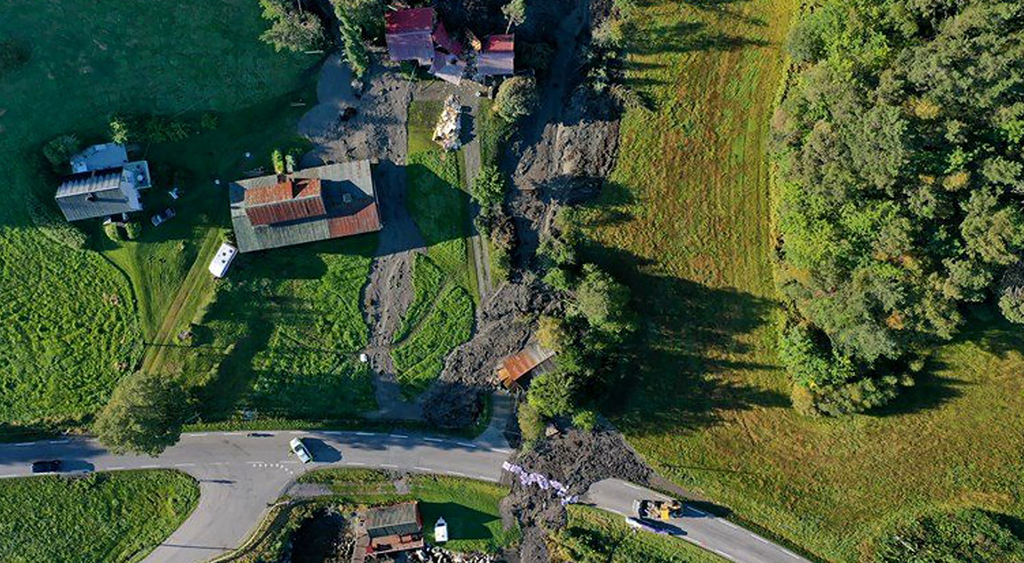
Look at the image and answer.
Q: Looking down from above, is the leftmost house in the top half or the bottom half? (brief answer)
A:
top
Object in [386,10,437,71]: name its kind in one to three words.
barn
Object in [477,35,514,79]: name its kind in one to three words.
barn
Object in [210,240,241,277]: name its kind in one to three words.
camper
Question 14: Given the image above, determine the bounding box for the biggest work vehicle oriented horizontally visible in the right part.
[631,497,681,521]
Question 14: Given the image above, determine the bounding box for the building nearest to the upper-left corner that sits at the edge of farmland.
[53,142,155,222]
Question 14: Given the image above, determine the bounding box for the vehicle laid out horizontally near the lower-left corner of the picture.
[33,458,64,473]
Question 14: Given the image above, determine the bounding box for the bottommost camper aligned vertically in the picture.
[434,509,448,541]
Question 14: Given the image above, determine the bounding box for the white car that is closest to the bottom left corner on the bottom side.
[289,436,314,464]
